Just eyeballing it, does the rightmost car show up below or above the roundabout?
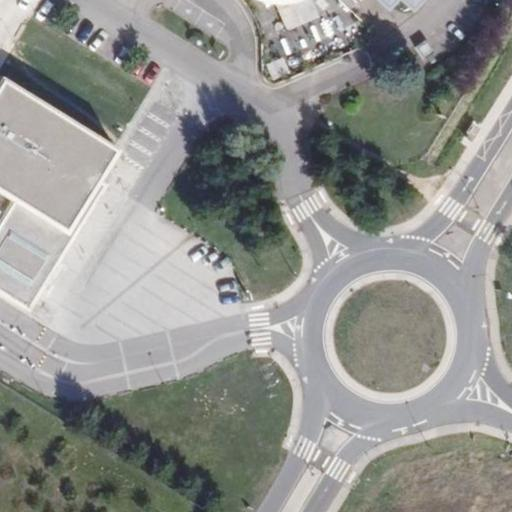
above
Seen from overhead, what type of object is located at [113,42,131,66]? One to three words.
car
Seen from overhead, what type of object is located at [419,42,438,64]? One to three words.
vehicle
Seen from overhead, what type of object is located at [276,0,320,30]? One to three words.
shed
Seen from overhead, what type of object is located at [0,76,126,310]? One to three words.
building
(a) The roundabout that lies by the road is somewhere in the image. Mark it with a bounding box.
[240,96,512,512]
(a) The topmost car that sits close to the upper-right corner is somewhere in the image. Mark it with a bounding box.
[448,21,468,42]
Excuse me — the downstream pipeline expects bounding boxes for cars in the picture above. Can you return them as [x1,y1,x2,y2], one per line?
[218,292,240,304]
[37,0,56,20]
[216,280,238,292]
[200,250,222,268]
[144,60,162,84]
[209,254,232,273]
[113,42,131,66]
[88,30,107,53]
[186,246,210,264]
[448,21,468,42]
[133,56,151,77]
[75,18,94,42]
